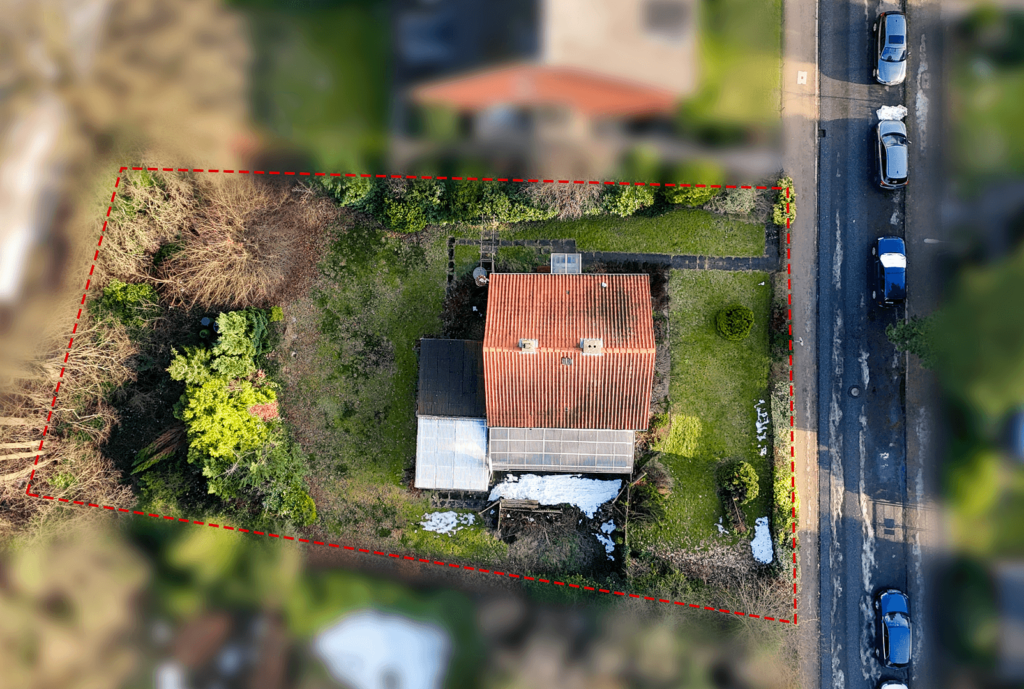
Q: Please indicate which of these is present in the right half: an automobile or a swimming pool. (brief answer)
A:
automobile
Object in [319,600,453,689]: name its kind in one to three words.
building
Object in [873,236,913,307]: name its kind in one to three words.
car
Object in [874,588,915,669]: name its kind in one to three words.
car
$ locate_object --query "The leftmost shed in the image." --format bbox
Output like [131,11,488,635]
[174,592,251,674]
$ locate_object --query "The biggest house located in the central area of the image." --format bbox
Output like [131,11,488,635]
[484,253,659,473]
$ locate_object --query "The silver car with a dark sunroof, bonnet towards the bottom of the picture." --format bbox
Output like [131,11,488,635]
[873,10,913,86]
